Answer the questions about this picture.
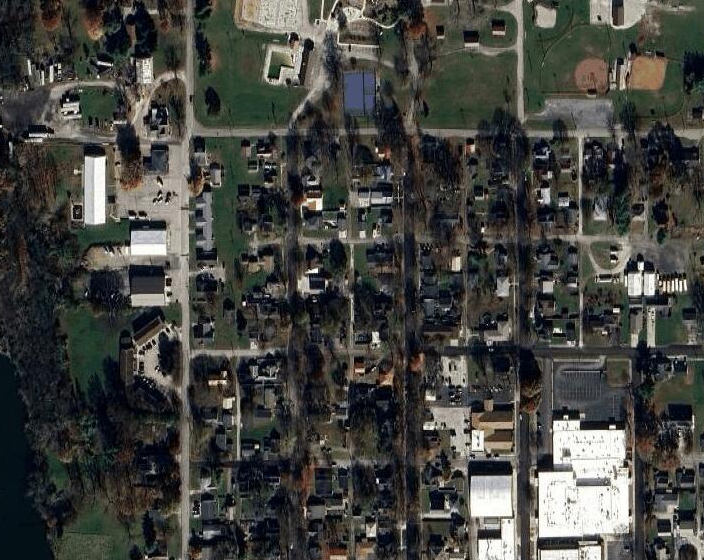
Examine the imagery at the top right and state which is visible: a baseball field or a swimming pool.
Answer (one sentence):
You can see a baseball field at the top right.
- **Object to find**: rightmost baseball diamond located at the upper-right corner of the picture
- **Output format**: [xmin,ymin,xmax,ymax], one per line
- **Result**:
[628,53,690,90]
